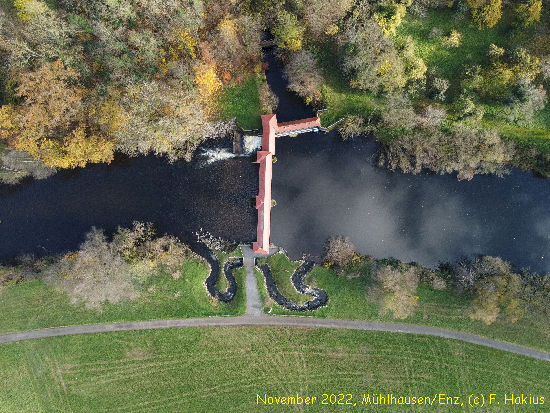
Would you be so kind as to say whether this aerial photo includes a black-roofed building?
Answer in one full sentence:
No, this view has no black-roofed building in it.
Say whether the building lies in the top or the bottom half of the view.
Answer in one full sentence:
The building sits in the top half of the picture.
